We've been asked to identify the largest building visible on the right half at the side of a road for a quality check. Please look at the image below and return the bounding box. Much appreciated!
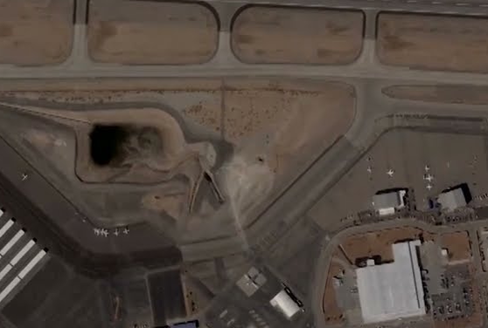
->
[357,241,427,325]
